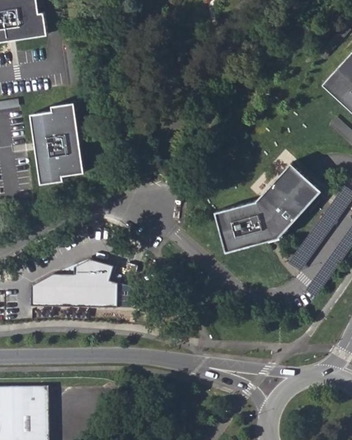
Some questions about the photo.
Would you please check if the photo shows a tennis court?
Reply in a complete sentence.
No, I can see no tennis court in this picture.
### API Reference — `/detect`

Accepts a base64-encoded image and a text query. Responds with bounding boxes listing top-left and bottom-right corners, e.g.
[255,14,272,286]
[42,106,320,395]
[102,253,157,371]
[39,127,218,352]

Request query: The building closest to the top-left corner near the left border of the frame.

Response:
[0,0,49,44]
